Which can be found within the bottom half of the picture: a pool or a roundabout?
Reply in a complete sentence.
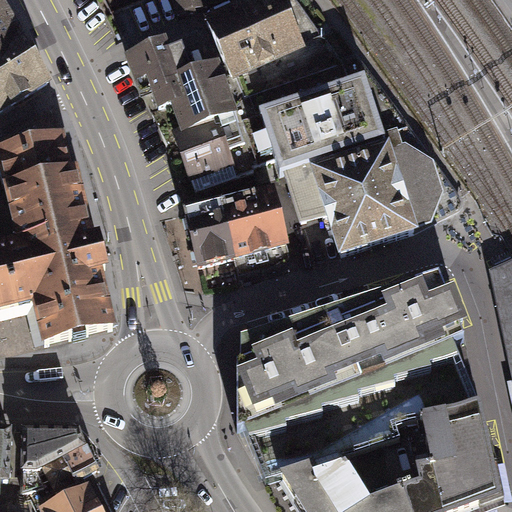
Looking within the bottom half of the picture, you will find a roundabout.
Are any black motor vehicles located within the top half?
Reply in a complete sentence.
Yes, a black motor vehicle is visible within the top half.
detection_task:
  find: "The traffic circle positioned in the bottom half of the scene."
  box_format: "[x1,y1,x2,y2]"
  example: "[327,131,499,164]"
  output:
[94,330,221,456]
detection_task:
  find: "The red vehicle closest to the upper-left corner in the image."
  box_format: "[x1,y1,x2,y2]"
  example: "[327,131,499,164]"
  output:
[112,77,134,92]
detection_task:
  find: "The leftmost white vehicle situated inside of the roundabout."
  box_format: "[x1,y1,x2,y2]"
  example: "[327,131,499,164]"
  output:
[104,415,126,429]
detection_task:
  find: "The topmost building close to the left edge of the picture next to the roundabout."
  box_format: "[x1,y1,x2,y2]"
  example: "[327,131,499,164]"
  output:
[0,151,114,350]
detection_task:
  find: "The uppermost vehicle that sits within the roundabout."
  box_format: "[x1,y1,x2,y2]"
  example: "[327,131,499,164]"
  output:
[180,344,193,365]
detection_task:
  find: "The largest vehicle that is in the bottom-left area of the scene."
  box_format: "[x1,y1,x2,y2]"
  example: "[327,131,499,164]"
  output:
[24,366,66,384]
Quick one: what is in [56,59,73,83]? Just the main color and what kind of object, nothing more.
black car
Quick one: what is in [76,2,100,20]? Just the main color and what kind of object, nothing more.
white car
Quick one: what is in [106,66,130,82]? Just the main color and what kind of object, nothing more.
white car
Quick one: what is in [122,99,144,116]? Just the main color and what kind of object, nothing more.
black car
